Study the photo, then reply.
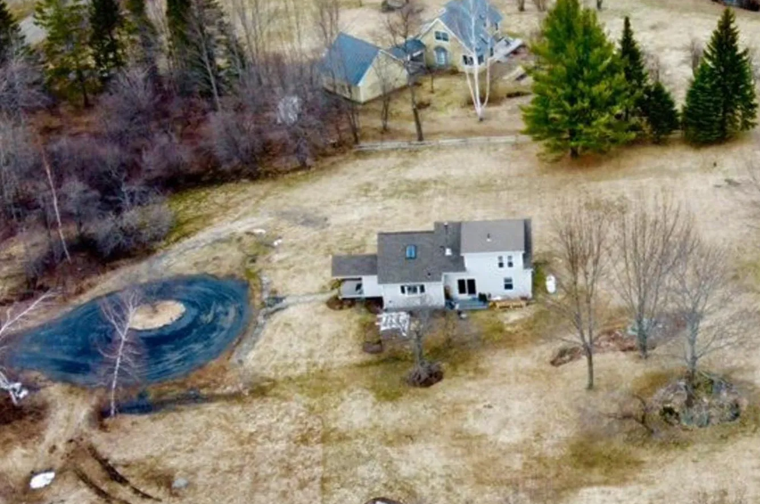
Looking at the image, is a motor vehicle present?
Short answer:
No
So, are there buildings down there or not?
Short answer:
Yes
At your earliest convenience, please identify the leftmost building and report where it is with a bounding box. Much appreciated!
[315,36,409,103]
